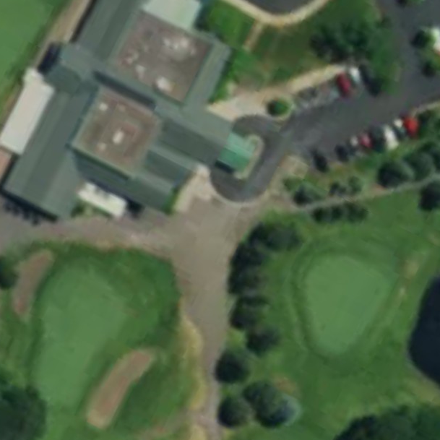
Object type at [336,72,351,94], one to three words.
car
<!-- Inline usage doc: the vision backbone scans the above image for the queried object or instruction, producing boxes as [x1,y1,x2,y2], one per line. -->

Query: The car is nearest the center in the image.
[313,150,327,170]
